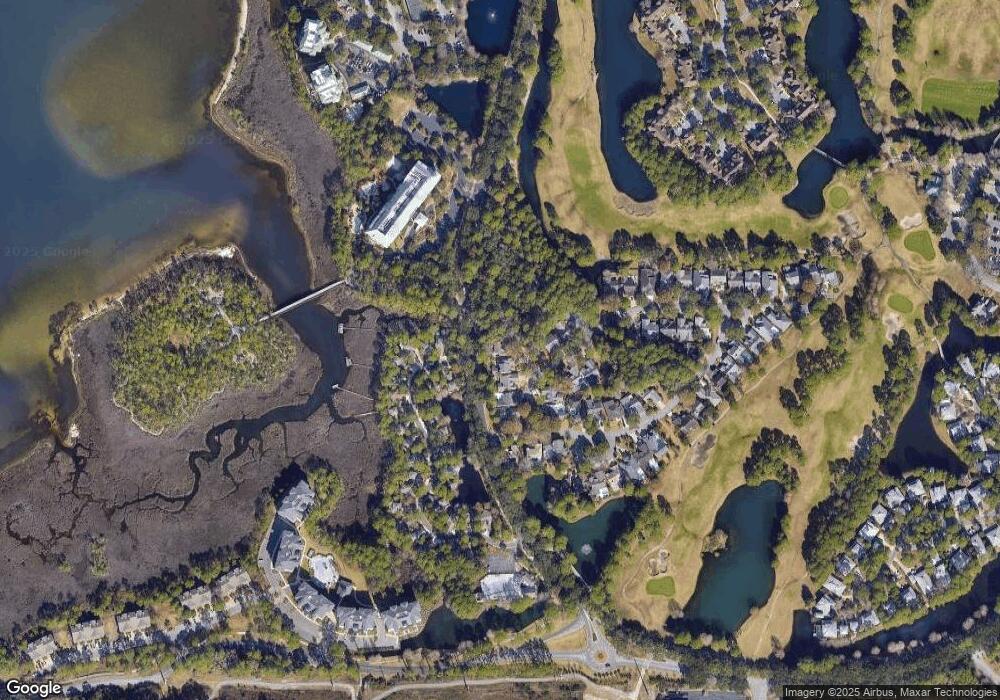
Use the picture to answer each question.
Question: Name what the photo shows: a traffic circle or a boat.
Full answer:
Looking from above, you can make out a traffic circle.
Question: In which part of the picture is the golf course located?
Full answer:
The golf course sits in the right section of the image.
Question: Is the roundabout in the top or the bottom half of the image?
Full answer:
The roundabout is in the bottom half of the image.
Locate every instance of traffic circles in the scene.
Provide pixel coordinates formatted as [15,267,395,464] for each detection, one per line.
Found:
[550,608,644,674]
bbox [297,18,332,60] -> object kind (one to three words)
building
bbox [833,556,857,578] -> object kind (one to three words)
house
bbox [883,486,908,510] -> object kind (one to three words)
house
